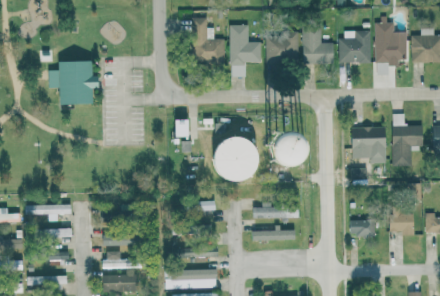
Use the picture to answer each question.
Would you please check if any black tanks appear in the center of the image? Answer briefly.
No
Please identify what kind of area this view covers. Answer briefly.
residential area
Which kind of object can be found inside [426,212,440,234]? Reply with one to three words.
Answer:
house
